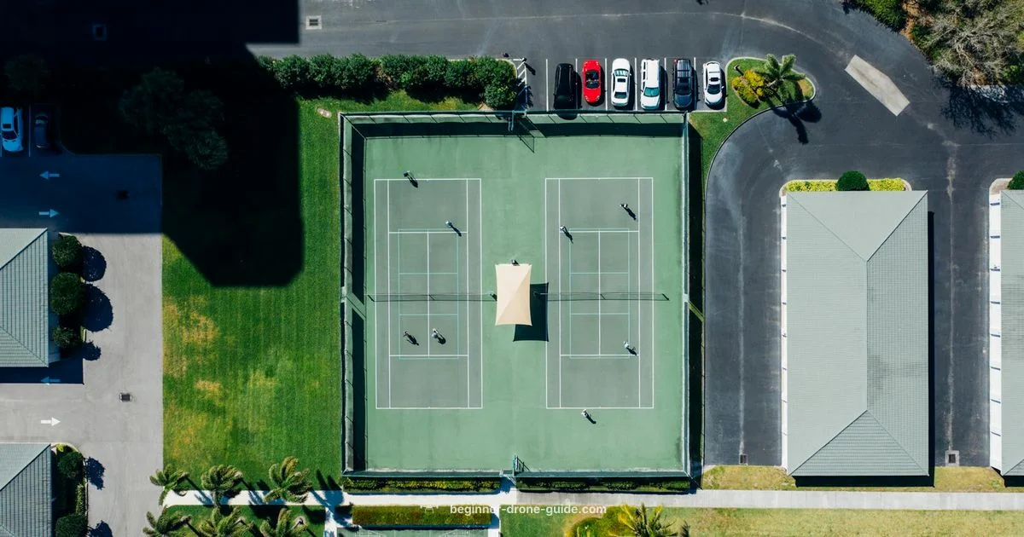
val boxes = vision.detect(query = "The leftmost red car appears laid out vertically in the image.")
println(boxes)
[582,58,604,103]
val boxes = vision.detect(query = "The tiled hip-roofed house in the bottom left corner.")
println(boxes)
[0,441,64,537]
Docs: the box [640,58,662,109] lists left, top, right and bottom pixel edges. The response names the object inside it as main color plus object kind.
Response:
white car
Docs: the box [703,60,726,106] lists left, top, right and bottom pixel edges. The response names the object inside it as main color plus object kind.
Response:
white car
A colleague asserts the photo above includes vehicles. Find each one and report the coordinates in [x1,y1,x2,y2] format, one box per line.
[672,58,696,109]
[611,58,633,107]
[0,107,23,155]
[582,58,604,103]
[703,60,726,106]
[640,58,662,109]
[552,60,575,110]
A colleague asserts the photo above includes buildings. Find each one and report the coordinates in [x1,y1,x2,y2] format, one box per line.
[988,190,1024,477]
[0,227,61,367]
[0,441,64,537]
[779,190,929,477]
